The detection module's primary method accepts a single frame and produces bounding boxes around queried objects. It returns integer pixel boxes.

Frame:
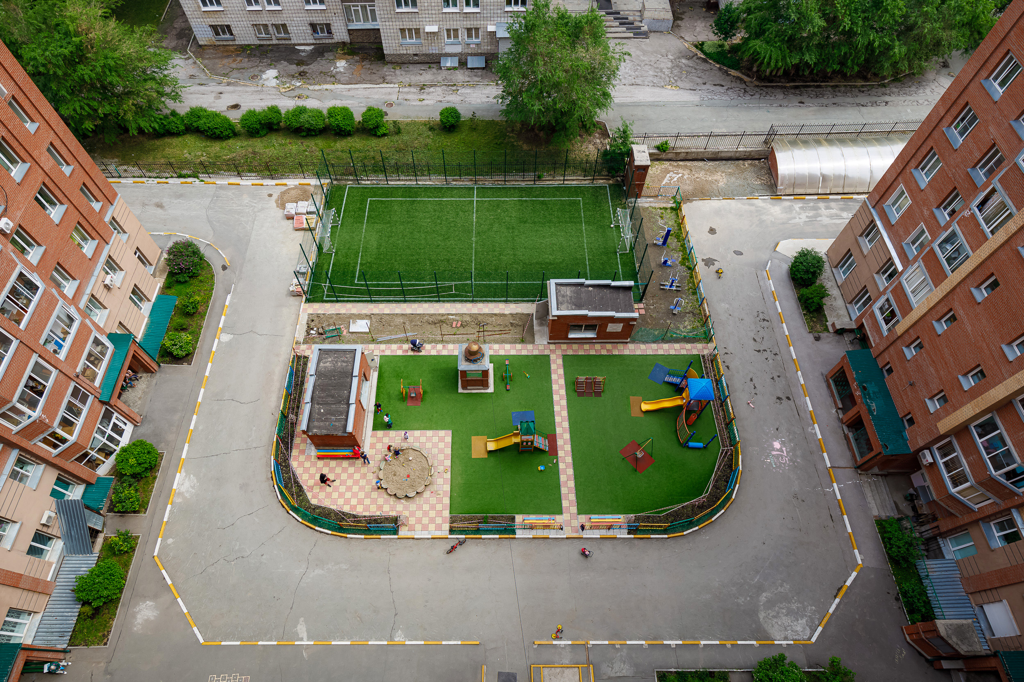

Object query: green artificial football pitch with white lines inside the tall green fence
[307,183,652,301]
